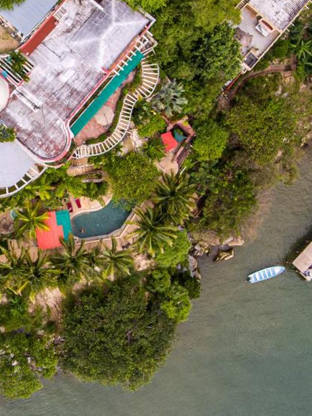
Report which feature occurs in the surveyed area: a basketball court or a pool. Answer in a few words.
pool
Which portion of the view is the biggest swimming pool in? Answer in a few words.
left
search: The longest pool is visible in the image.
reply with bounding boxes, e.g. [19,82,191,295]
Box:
[8,192,143,262]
